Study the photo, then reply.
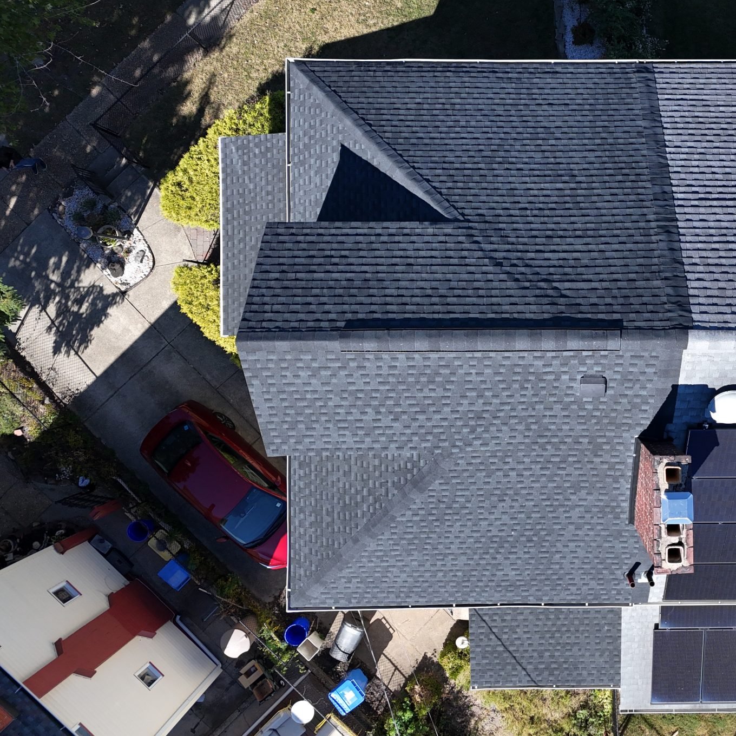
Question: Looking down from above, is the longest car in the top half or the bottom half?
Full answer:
The bottom half of the photo is where the longest car is.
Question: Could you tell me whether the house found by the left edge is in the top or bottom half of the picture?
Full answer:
The house found by the left edge sits in the bottom half of the picture.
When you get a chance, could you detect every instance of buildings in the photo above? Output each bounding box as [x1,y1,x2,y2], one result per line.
[223,56,736,712]
[0,546,222,736]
